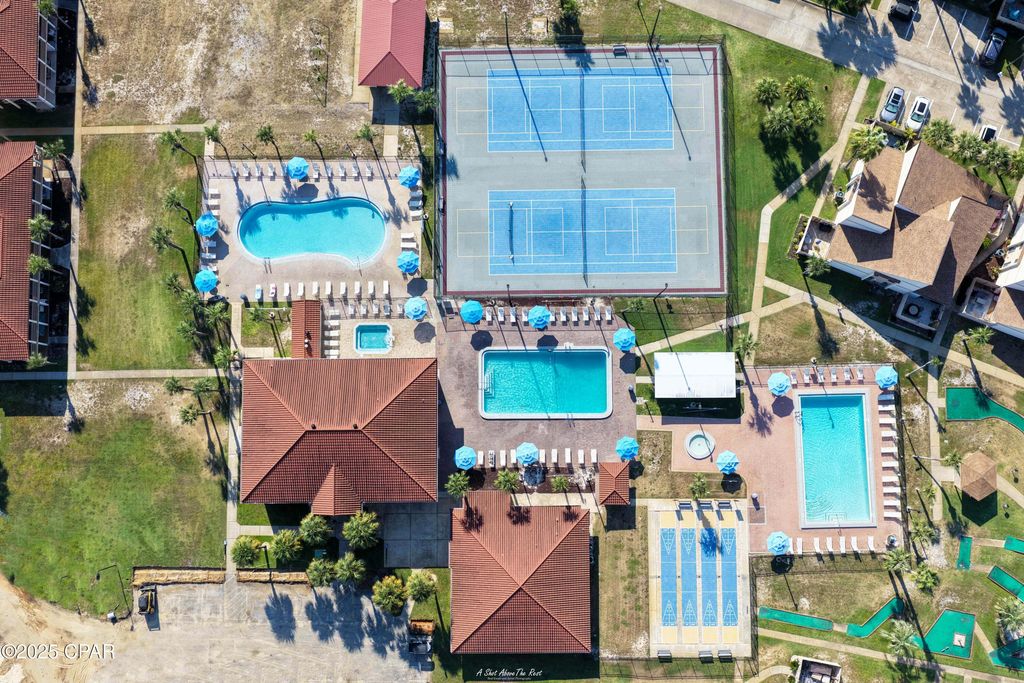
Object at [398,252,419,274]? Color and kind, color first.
blue umbrella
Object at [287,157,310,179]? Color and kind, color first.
blue umbrella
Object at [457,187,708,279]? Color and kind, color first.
blue tennis court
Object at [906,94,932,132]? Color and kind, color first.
white car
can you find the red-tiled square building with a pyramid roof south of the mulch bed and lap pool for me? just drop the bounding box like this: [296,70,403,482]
[450,490,591,654]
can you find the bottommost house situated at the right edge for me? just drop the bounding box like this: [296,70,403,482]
[958,229,1024,338]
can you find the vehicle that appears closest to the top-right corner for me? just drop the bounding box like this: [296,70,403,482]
[978,29,1007,70]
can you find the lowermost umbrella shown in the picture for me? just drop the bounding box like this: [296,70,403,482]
[767,531,790,554]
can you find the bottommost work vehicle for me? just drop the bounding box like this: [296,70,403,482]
[413,633,429,663]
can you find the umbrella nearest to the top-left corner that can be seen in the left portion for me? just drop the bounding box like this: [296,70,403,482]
[196,214,218,236]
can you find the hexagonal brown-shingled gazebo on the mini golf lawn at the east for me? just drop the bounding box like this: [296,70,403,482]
[961,451,997,501]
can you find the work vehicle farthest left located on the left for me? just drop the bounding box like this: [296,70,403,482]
[136,583,155,616]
